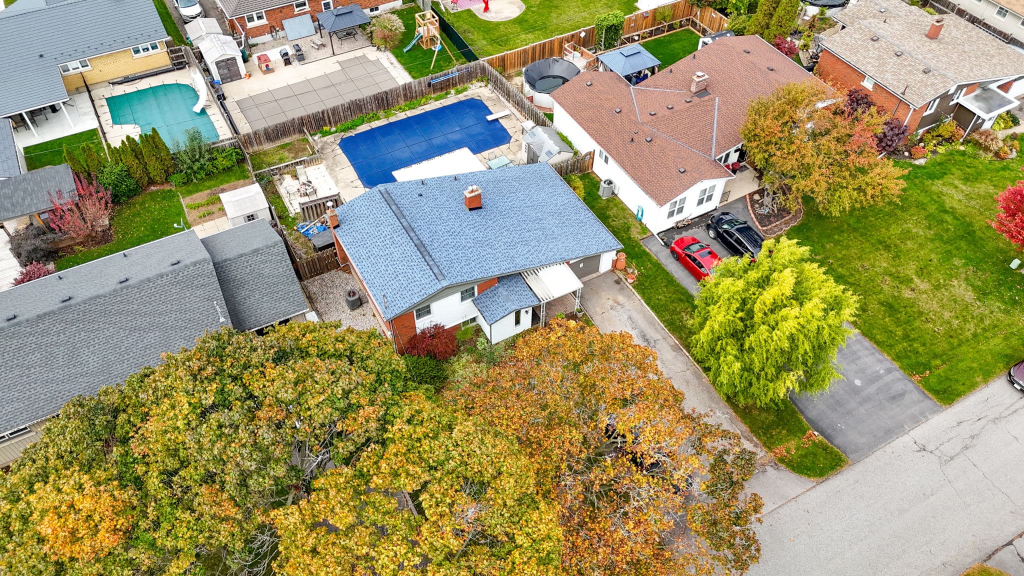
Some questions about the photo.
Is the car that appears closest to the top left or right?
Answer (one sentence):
The car that appears closest to the top appears in the left half of the scene.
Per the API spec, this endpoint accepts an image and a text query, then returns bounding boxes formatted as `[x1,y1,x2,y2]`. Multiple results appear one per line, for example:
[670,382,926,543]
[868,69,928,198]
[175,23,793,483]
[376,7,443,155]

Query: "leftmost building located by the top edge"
[0,0,175,138]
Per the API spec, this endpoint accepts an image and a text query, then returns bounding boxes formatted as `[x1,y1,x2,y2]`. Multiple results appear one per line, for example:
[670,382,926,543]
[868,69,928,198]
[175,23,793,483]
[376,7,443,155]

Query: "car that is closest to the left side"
[172,0,206,24]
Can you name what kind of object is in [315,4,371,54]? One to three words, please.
gazebo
